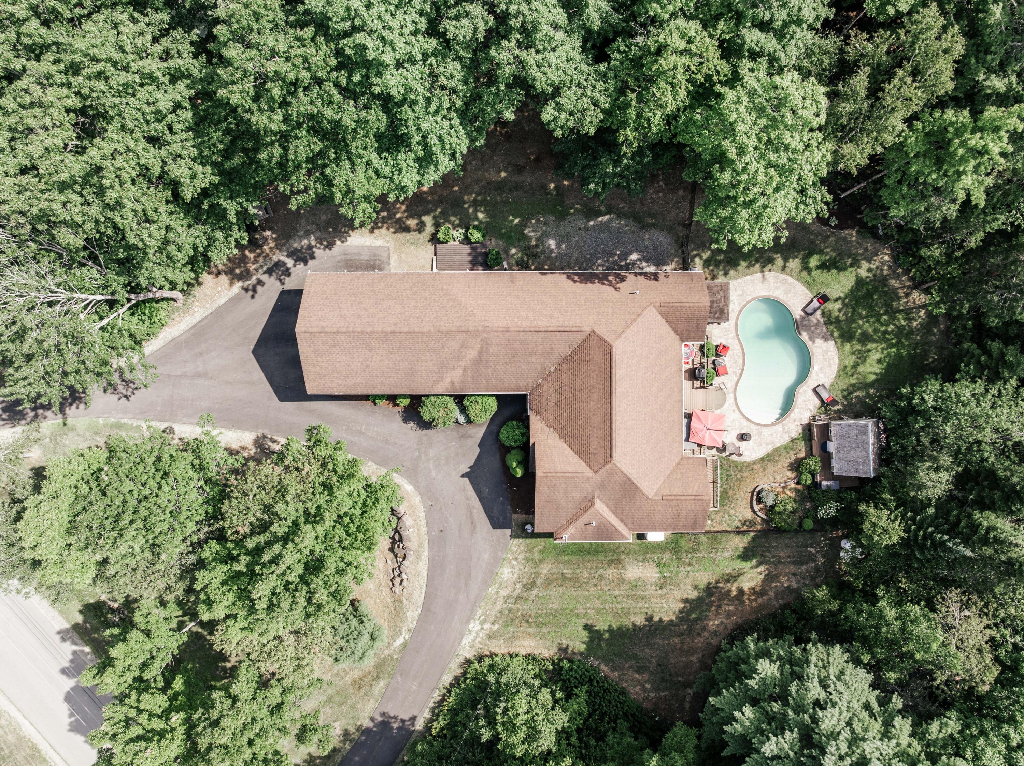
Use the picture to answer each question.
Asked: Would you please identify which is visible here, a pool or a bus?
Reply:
pool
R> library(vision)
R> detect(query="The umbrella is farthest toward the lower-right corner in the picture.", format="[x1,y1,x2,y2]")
[689,409,729,447]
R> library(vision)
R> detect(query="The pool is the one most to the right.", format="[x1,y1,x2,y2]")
[732,294,818,428]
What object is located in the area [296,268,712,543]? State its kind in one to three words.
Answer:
house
